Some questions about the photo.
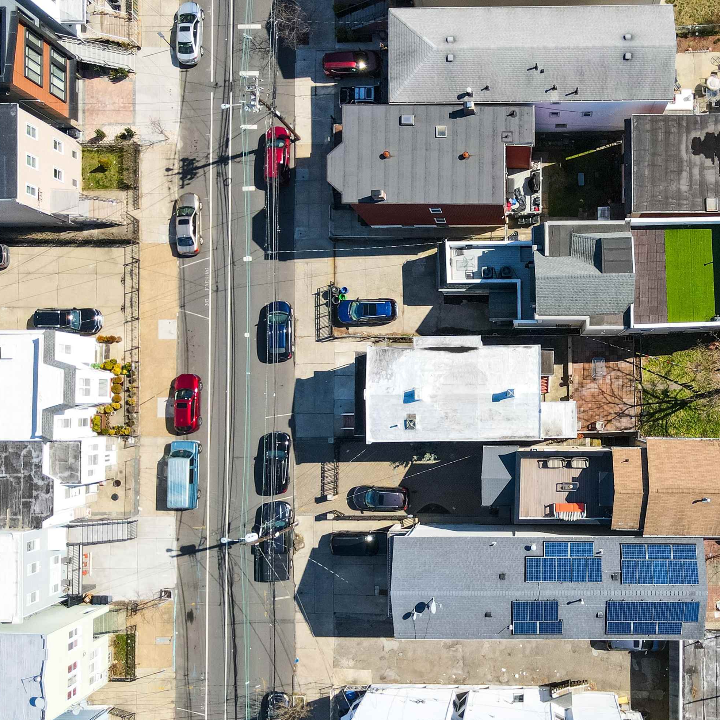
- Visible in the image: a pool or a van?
van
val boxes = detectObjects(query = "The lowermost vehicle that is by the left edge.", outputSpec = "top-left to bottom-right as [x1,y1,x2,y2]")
[34,302,106,334]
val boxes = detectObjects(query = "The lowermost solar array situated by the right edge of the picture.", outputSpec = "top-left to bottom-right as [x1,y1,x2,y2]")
[607,601,699,635]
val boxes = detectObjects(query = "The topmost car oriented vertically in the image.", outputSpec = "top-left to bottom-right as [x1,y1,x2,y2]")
[173,0,206,67]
